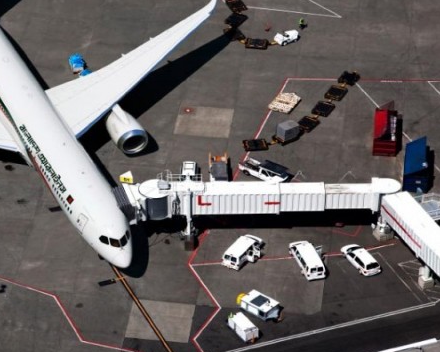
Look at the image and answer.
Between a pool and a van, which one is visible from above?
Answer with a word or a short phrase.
van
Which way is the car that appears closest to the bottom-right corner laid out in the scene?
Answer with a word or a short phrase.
at an angle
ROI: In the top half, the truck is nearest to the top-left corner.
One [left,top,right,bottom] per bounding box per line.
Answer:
[63,50,86,74]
